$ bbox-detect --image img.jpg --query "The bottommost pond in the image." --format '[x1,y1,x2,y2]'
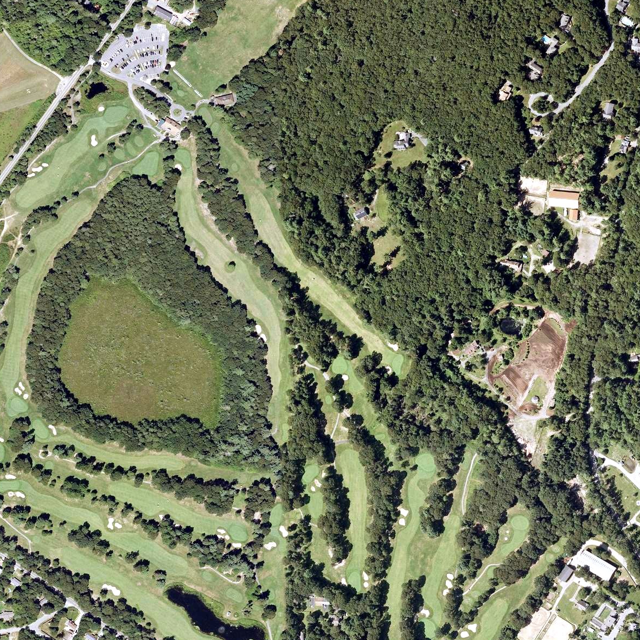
[167,586,266,640]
